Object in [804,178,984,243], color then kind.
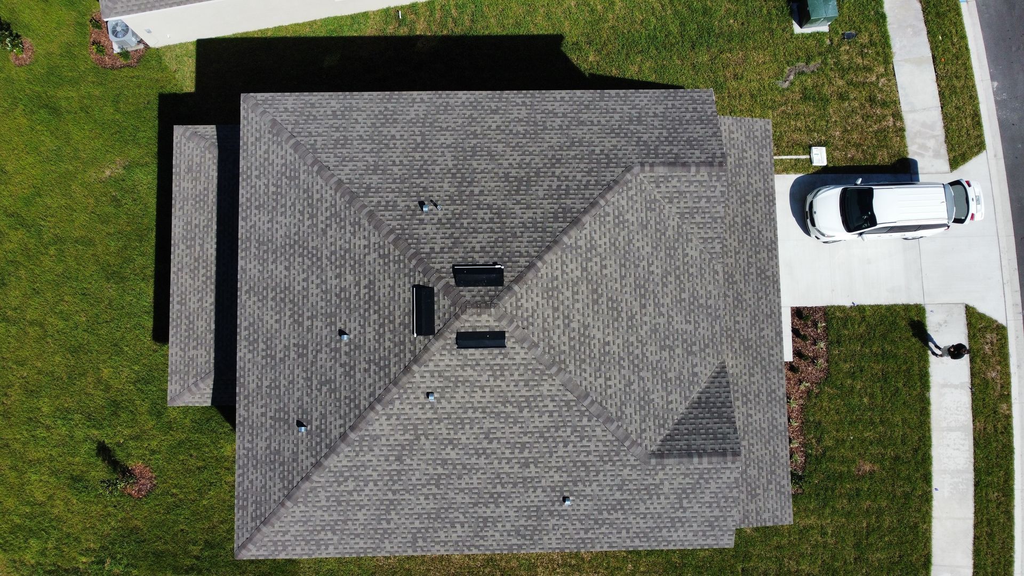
white car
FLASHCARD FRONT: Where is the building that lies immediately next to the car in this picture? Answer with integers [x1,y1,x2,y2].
[167,90,792,560]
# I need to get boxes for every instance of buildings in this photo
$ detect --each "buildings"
[101,0,415,47]
[167,90,792,560]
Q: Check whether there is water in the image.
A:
No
